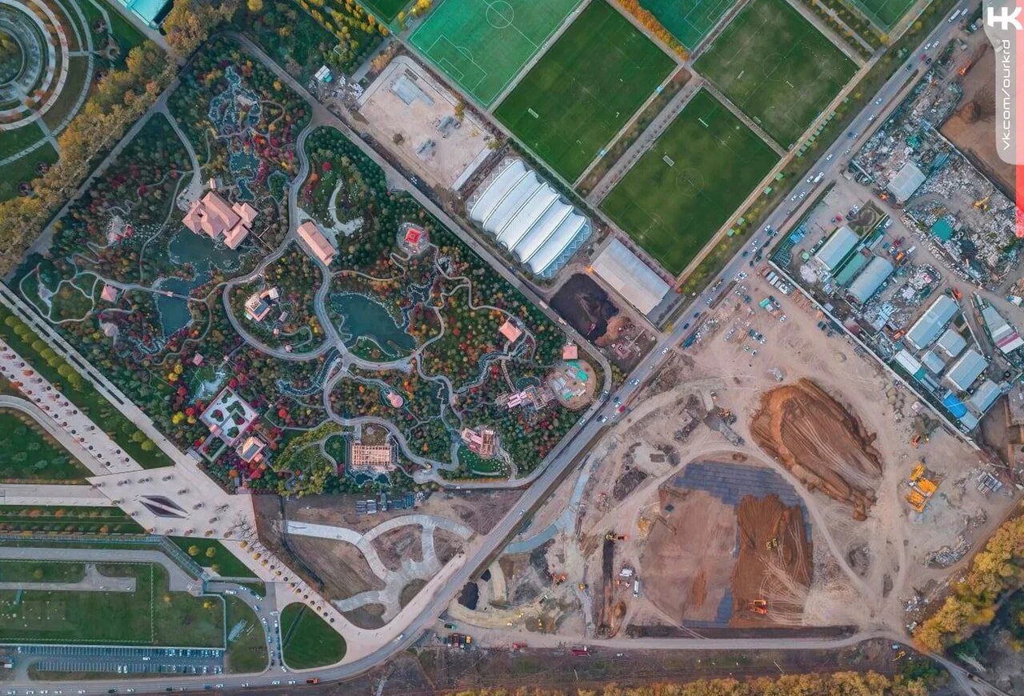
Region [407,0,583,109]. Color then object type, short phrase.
green soccer field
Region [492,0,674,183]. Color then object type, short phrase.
green soccer field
